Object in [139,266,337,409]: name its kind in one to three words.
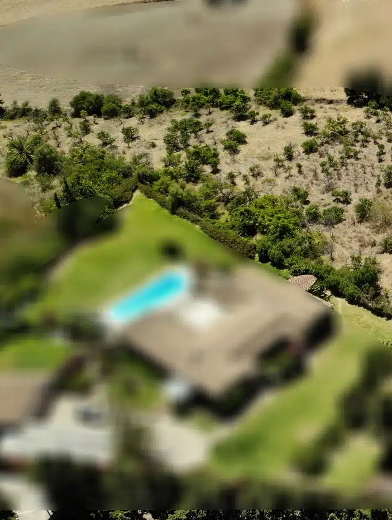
house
